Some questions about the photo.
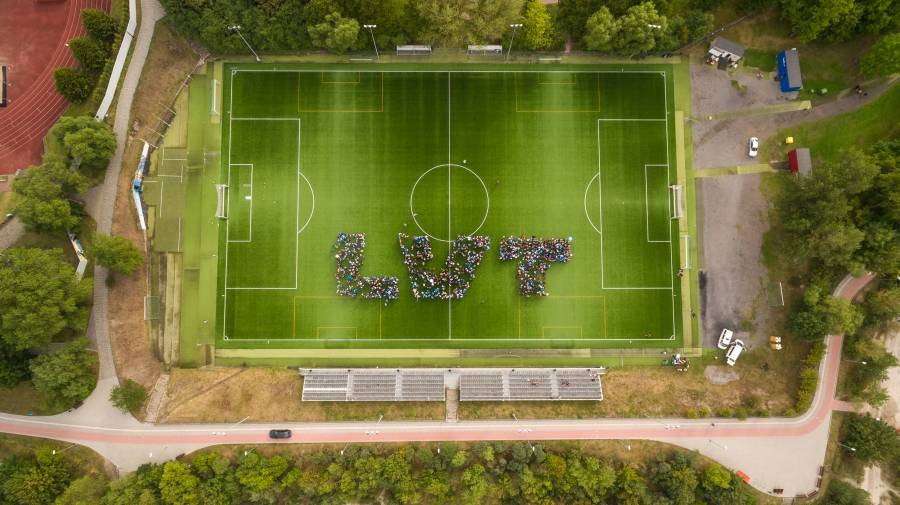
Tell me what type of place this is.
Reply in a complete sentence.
This looks like a sports ground.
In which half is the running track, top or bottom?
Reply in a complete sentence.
The running track sits in the top half of the picture.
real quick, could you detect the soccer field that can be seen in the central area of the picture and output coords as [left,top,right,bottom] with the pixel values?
[213,63,684,349]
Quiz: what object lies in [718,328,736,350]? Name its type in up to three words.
vehicle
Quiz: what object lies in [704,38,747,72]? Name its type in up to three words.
house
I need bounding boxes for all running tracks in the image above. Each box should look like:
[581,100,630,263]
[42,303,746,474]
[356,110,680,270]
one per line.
[0,0,108,176]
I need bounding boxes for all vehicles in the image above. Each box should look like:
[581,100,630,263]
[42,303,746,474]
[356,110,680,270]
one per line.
[269,429,291,440]
[727,341,748,367]
[750,137,759,157]
[718,328,736,350]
